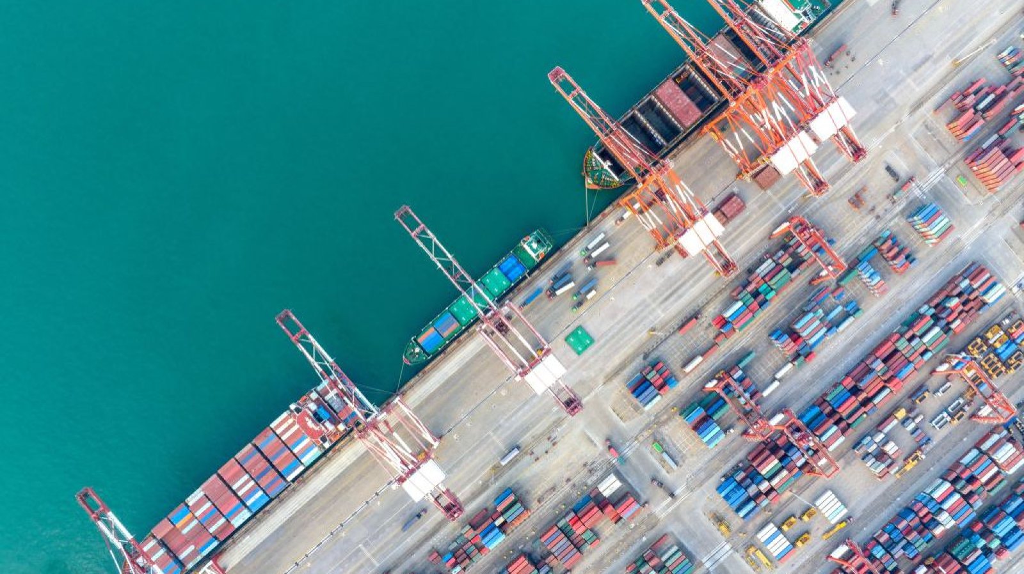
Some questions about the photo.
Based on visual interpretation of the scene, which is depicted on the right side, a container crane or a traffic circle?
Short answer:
container crane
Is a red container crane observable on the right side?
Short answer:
Yes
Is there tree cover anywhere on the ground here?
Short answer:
No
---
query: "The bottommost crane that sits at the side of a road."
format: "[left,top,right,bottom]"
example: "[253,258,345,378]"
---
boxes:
[827,542,881,574]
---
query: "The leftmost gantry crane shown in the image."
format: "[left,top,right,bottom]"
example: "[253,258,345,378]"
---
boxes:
[75,486,167,574]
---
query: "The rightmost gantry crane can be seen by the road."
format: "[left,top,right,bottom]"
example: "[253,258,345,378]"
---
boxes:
[930,359,1015,423]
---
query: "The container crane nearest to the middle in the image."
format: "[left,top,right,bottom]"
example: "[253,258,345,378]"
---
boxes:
[395,206,583,417]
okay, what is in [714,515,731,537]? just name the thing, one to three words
work vehicle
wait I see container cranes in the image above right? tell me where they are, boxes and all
[395,206,583,417]
[764,413,839,479]
[930,359,1015,423]
[700,376,773,440]
[276,310,464,521]
[642,0,830,200]
[75,486,167,574]
[827,542,881,574]
[769,217,846,287]
[707,0,868,167]
[551,68,739,280]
